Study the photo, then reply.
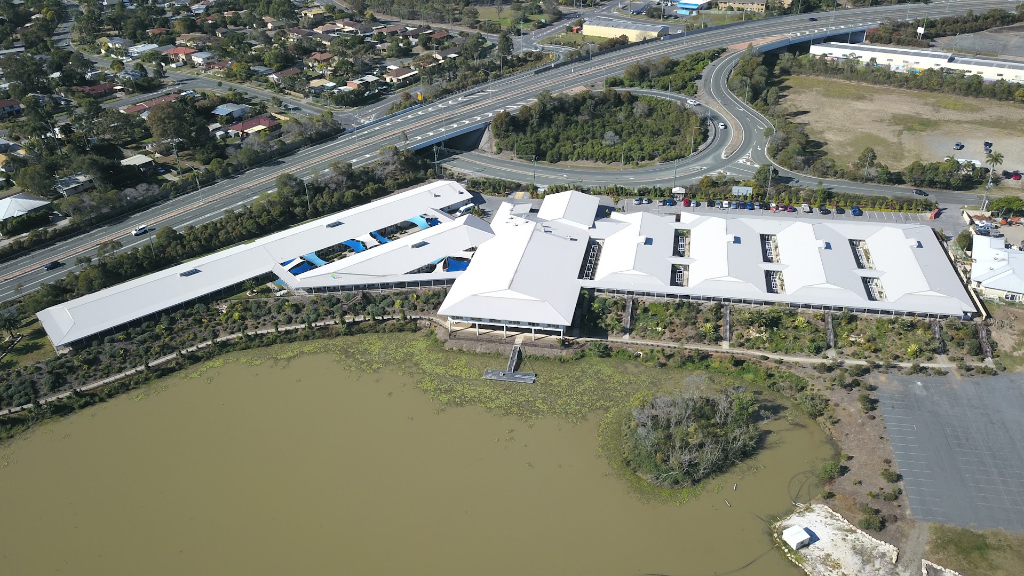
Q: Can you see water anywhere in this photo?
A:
Yes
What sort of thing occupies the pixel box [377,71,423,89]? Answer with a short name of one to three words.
house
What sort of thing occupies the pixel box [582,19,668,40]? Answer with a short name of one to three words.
building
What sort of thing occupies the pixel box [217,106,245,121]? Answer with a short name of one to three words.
house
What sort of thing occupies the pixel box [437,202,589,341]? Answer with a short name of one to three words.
building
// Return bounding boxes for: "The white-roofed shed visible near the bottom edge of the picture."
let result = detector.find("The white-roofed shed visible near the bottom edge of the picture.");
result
[782,525,810,553]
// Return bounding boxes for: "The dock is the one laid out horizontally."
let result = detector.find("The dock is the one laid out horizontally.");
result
[483,368,536,383]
